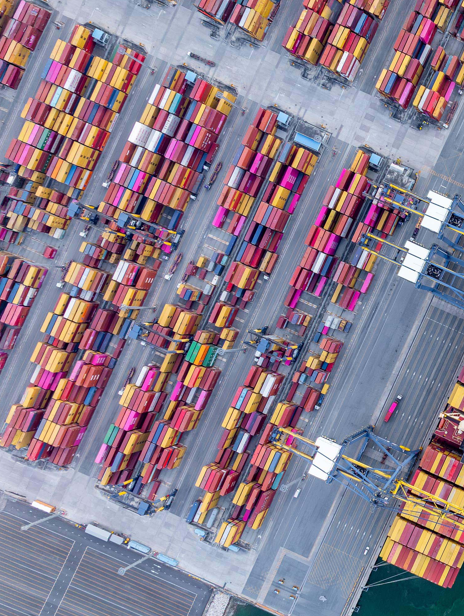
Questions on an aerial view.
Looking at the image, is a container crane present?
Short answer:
Yes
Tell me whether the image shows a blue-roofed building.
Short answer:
Yes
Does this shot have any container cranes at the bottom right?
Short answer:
Yes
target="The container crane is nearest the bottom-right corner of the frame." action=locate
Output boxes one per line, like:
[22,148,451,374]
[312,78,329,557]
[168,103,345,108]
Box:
[266,422,464,531]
